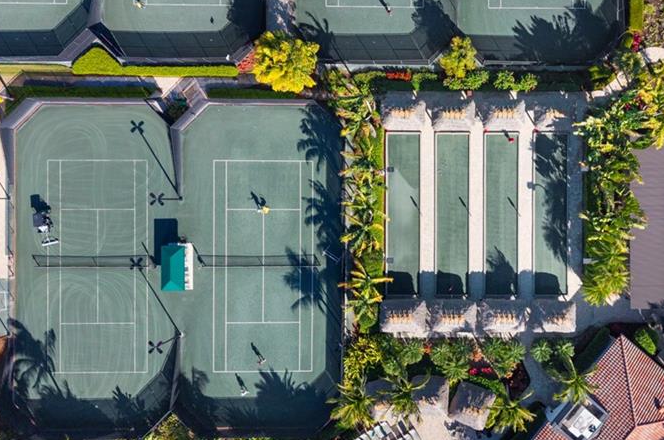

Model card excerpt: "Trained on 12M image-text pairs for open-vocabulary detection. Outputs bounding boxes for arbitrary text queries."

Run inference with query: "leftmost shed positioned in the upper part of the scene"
[381,94,429,137]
